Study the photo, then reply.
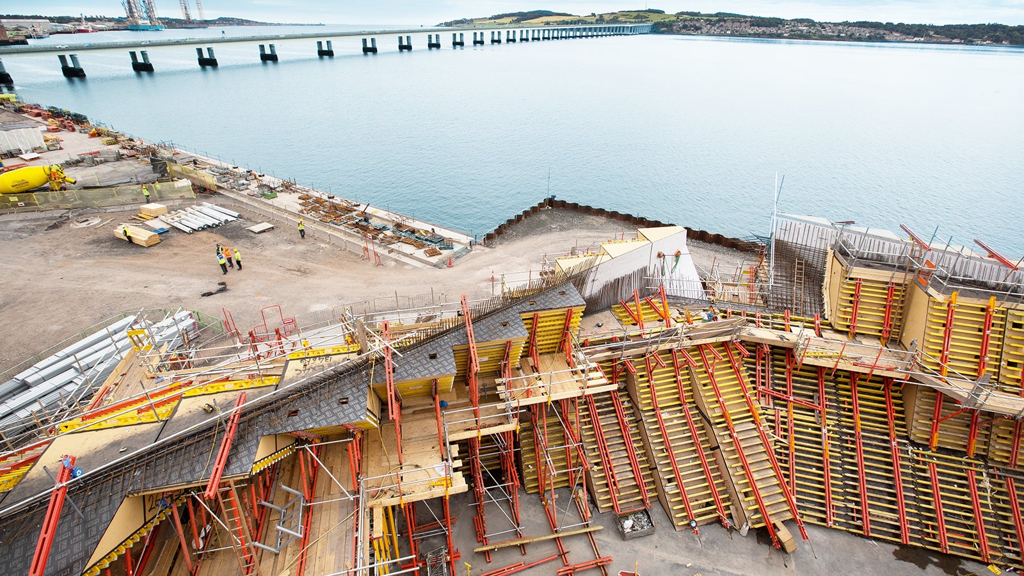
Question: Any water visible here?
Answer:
Yes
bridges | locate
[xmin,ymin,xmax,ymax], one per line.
[0,22,654,86]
